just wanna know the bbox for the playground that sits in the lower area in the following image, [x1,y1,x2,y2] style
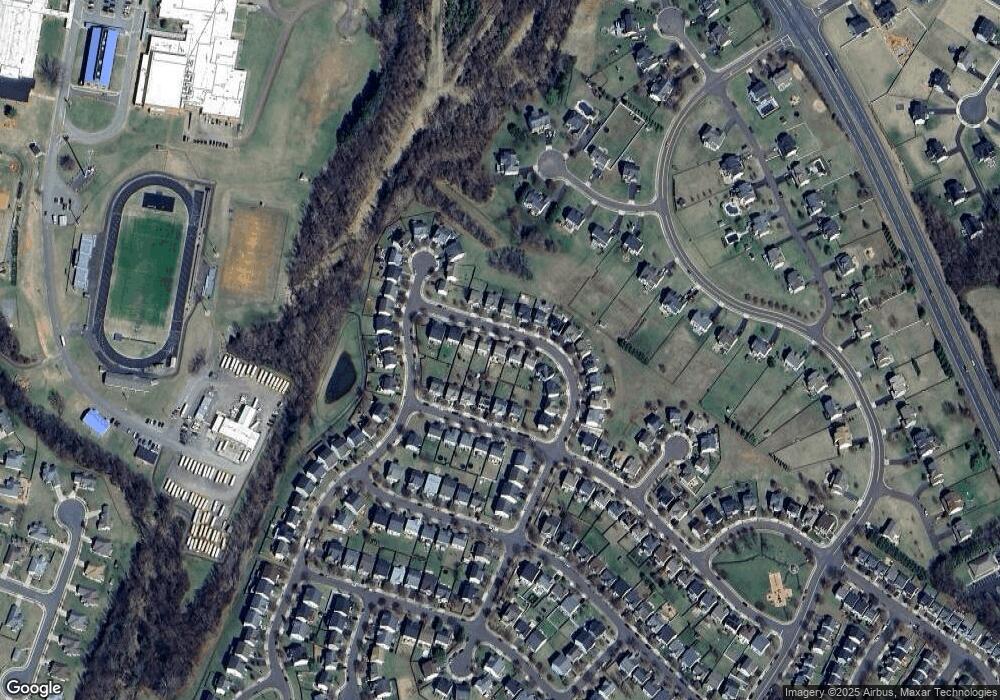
[768,571,792,607]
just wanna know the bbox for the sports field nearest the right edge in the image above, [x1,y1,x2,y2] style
[219,204,288,303]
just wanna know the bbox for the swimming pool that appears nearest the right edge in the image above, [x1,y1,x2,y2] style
[809,158,827,177]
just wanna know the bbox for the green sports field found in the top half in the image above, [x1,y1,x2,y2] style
[109,216,183,329]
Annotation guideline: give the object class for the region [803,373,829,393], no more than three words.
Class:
house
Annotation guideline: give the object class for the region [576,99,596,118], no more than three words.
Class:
swimming pool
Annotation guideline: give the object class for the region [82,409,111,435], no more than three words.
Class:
building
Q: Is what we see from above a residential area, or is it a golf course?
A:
residential area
